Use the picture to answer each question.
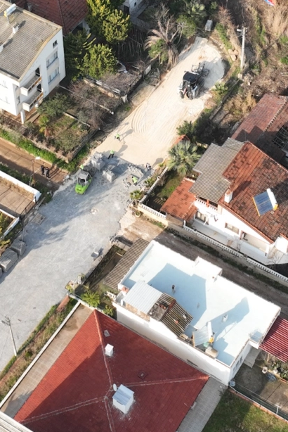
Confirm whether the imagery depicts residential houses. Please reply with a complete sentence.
Yes, the image includes a residential house.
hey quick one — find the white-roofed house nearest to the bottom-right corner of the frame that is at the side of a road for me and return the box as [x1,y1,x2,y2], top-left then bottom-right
[112,239,281,385]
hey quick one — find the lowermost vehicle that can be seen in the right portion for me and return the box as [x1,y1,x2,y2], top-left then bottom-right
[170,62,210,106]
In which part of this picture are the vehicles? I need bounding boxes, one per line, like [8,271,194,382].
[170,62,210,106]
[71,166,92,195]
